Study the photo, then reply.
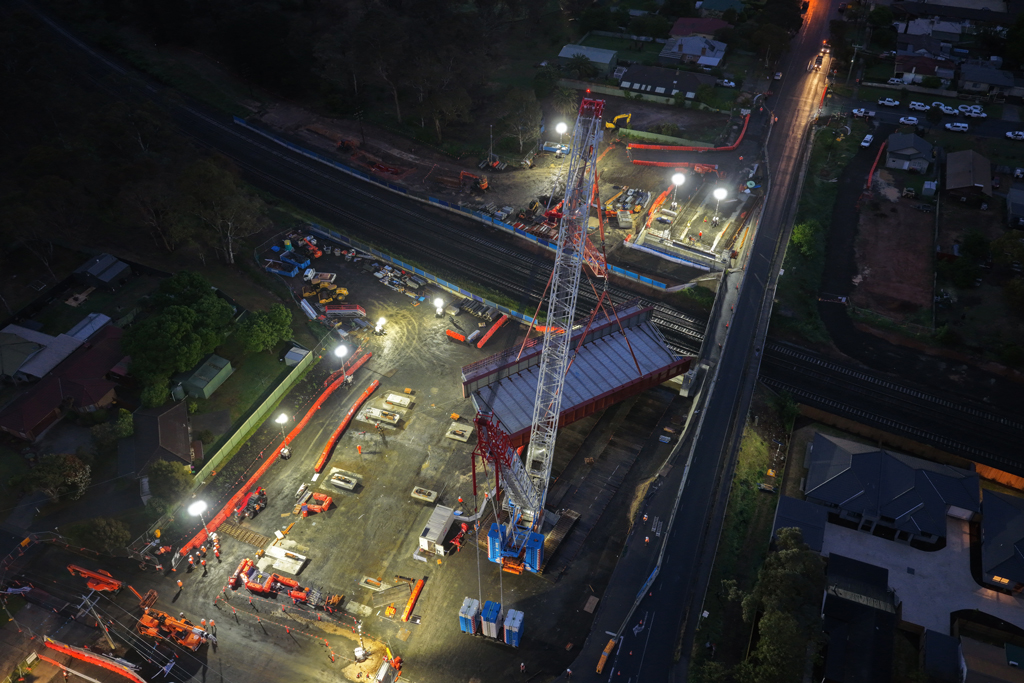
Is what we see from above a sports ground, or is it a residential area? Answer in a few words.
residential area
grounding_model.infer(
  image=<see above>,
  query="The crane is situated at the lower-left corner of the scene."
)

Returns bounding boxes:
[122,593,211,655]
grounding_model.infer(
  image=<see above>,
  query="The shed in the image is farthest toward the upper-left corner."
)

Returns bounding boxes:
[76,253,132,296]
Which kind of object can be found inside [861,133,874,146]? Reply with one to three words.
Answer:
vehicle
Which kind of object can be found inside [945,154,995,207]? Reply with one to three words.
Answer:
house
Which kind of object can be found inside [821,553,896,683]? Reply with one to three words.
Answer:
house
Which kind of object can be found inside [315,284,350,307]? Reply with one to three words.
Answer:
work vehicle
